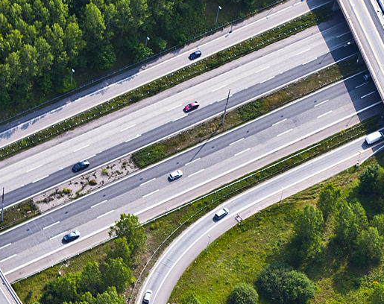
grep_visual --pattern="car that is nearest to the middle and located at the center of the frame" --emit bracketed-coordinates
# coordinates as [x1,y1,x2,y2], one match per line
[167,170,185,182]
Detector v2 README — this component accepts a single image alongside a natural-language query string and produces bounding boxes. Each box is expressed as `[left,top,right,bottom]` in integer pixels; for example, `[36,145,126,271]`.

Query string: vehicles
[184,102,200,113]
[72,160,90,173]
[187,49,205,61]
[213,209,230,222]
[365,131,384,146]
[143,291,152,304]
[62,232,81,243]
[167,170,185,182]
